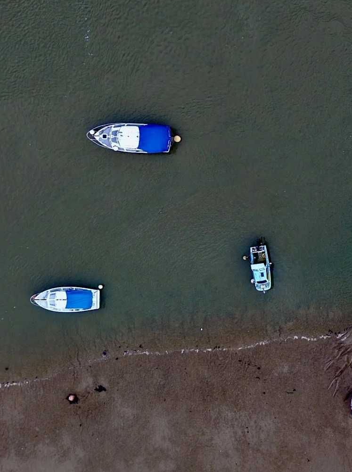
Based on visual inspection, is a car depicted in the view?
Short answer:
No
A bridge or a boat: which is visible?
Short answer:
boat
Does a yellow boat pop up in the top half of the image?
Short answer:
No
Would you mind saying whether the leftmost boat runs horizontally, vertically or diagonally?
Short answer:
horizontally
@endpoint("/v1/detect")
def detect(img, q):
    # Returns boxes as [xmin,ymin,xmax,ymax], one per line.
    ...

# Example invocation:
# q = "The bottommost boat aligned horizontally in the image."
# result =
[30,287,102,313]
